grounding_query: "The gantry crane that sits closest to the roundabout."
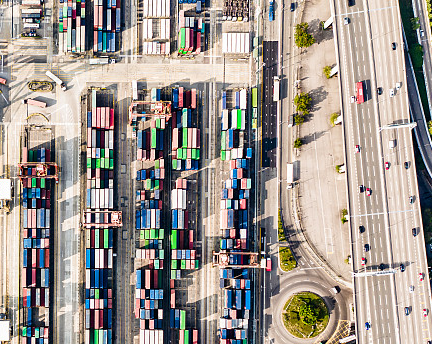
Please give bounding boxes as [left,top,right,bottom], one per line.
[208,249,259,269]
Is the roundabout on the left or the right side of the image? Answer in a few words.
right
